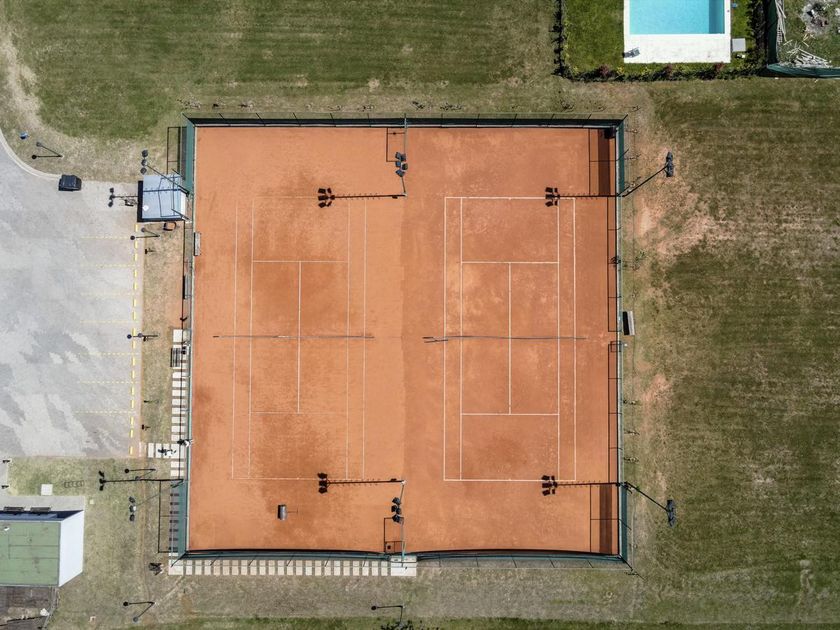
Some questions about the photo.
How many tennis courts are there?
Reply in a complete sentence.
In total, there are 2 tennis courts in the scene.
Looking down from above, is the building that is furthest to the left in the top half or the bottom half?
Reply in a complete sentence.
The building that is furthest to the left sits in the bottom half of the picture.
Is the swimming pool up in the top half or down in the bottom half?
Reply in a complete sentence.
The swimming pool is in the top half of the image.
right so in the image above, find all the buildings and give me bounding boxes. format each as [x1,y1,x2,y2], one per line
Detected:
[0,511,83,590]
[144,174,186,222]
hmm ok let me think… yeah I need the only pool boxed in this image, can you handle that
[623,0,735,62]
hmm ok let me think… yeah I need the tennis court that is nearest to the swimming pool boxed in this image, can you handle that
[404,128,619,553]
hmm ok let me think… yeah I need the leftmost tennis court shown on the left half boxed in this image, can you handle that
[187,128,404,553]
